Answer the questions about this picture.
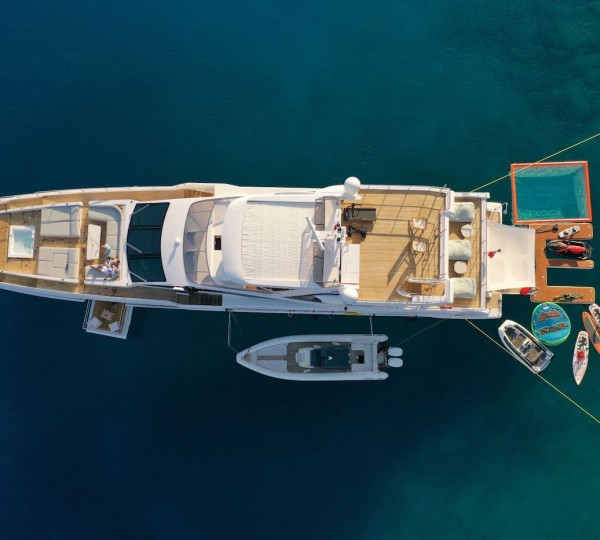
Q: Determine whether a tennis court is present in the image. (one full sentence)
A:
No, the frame has no tennis court in it.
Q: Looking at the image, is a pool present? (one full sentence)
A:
Yes, a pool can be made out from above.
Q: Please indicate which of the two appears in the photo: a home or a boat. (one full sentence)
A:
This aerial view contains a boat.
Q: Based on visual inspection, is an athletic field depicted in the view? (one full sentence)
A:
No, this view has no athletic field in it.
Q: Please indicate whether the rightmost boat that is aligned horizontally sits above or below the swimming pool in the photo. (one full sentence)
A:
Looking at the photo, you'll find the rightmost boat that is aligned horizontally below the swimming pool.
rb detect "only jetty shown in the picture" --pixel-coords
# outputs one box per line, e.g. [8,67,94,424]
[528,223,595,303]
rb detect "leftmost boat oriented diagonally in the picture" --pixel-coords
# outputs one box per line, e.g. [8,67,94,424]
[500,321,558,376]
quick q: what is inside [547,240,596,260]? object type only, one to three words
boat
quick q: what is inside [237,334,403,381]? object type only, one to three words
boat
